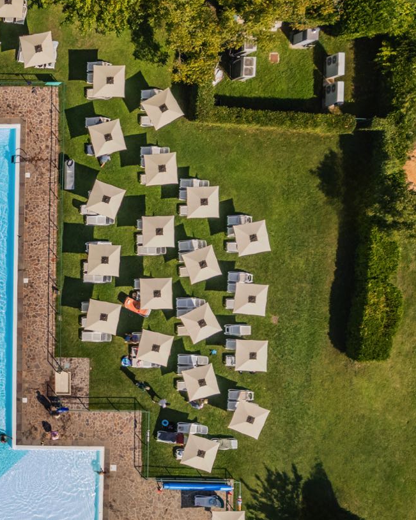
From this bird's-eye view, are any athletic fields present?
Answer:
No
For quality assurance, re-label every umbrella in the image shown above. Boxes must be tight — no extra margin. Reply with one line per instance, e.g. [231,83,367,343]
[84,297,121,334]
[229,280,266,315]
[177,301,221,344]
[84,180,125,220]
[140,87,182,131]
[180,362,218,401]
[209,510,243,520]
[139,214,173,247]
[225,398,267,439]
[135,328,173,367]
[180,243,221,284]
[85,242,119,276]
[89,65,121,97]
[138,278,170,310]
[179,431,218,471]
[86,120,122,156]
[141,152,176,187]
[183,186,217,219]
[230,219,267,256]
[229,339,266,371]
[19,31,55,68]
